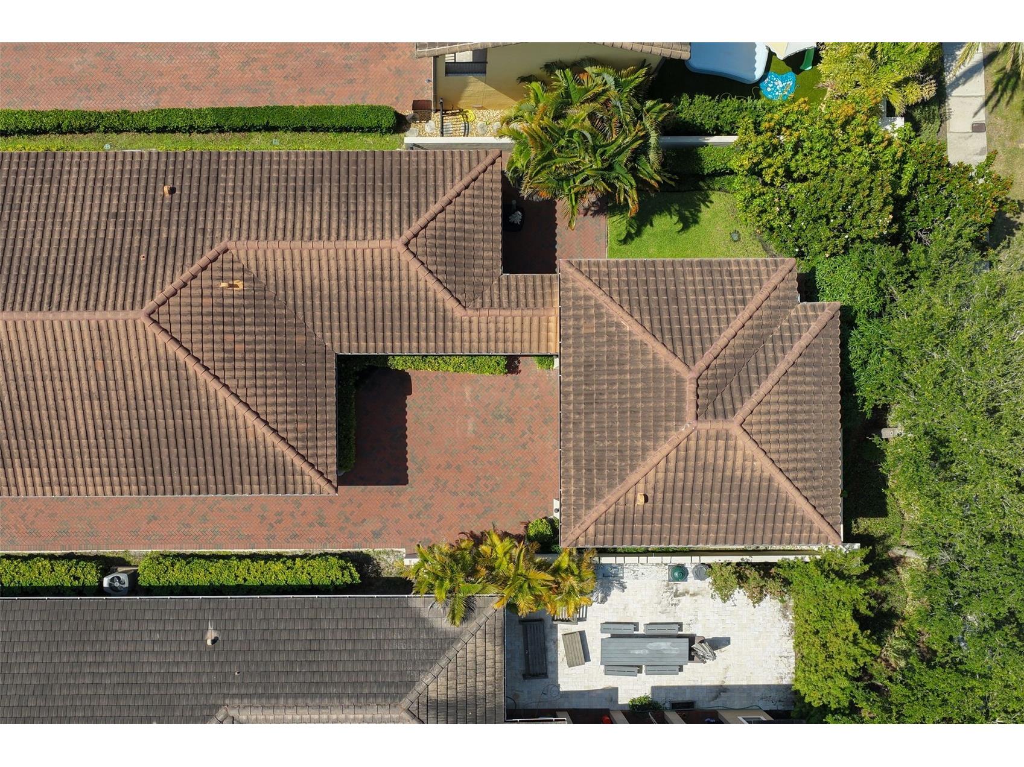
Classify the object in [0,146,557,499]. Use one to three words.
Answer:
house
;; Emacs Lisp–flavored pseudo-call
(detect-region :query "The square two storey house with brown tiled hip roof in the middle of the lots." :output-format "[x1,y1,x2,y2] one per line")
[556,255,847,551]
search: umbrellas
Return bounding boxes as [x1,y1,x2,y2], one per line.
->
[688,640,721,669]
